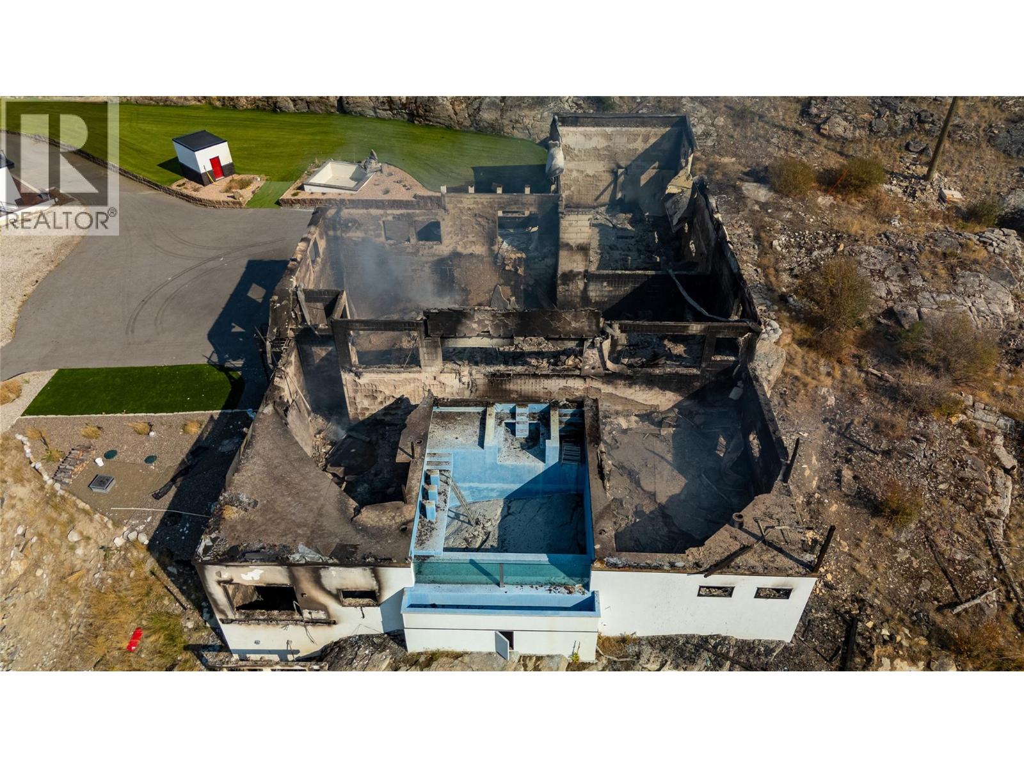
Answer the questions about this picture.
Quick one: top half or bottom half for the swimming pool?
bottom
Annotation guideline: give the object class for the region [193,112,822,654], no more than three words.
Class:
house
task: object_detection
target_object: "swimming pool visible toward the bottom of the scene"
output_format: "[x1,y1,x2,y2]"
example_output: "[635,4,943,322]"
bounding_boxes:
[400,404,602,661]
